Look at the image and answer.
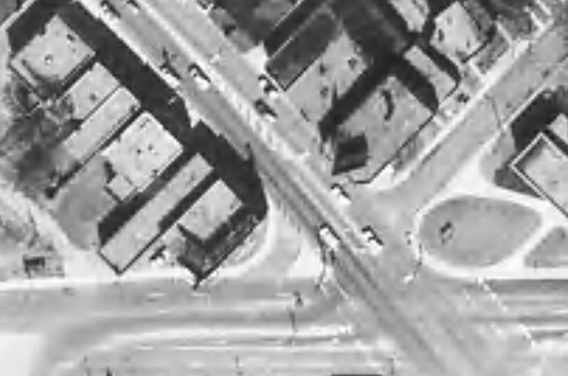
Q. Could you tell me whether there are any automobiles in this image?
Yes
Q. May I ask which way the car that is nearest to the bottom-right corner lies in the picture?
on a diagonal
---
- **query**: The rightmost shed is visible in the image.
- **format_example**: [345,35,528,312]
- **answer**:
[549,114,568,141]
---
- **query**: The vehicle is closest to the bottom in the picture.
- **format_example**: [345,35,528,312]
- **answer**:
[148,249,172,267]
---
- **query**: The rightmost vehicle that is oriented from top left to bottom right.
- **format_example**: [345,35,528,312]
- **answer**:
[362,227,384,249]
